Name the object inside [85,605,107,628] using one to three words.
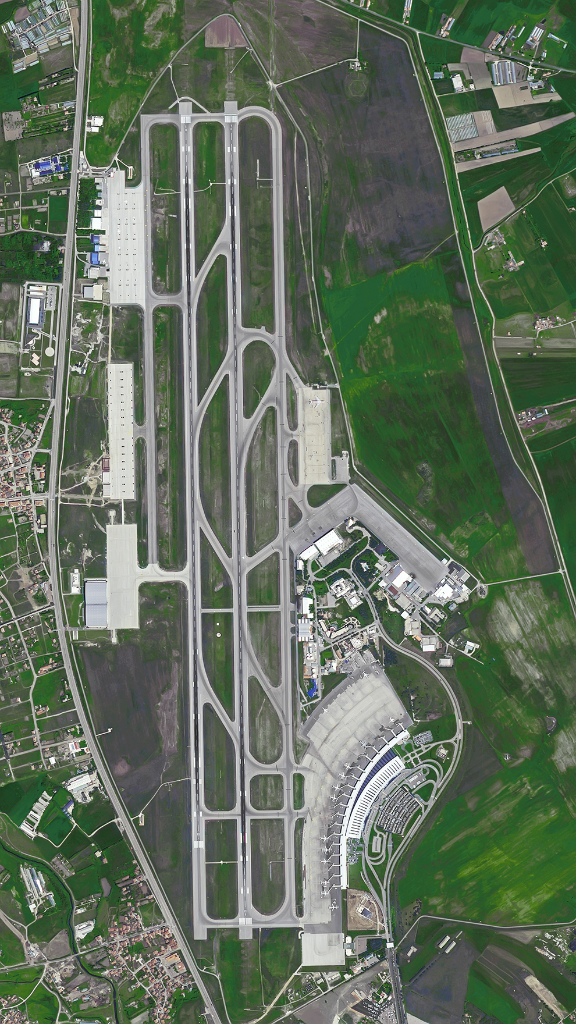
hangar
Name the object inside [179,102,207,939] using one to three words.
runway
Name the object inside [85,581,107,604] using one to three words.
hangar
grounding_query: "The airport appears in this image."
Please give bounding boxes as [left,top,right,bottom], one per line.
[106,97,449,966]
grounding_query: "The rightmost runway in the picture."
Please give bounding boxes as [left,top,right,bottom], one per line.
[224,101,252,939]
